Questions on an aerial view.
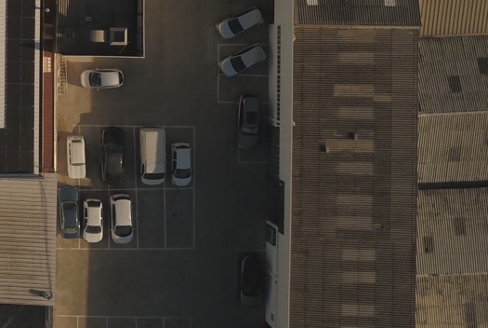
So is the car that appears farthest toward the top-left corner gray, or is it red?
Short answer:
gray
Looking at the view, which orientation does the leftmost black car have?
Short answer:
up and down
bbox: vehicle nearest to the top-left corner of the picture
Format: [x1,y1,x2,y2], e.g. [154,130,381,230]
[80,66,125,91]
